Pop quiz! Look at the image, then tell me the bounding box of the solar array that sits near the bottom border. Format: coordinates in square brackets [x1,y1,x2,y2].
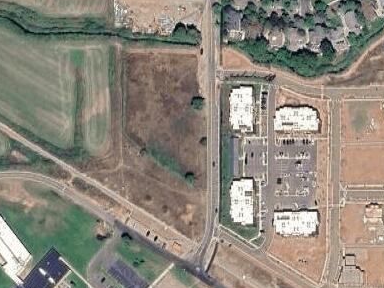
[23,250,66,288]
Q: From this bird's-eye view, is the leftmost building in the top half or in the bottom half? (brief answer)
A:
bottom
